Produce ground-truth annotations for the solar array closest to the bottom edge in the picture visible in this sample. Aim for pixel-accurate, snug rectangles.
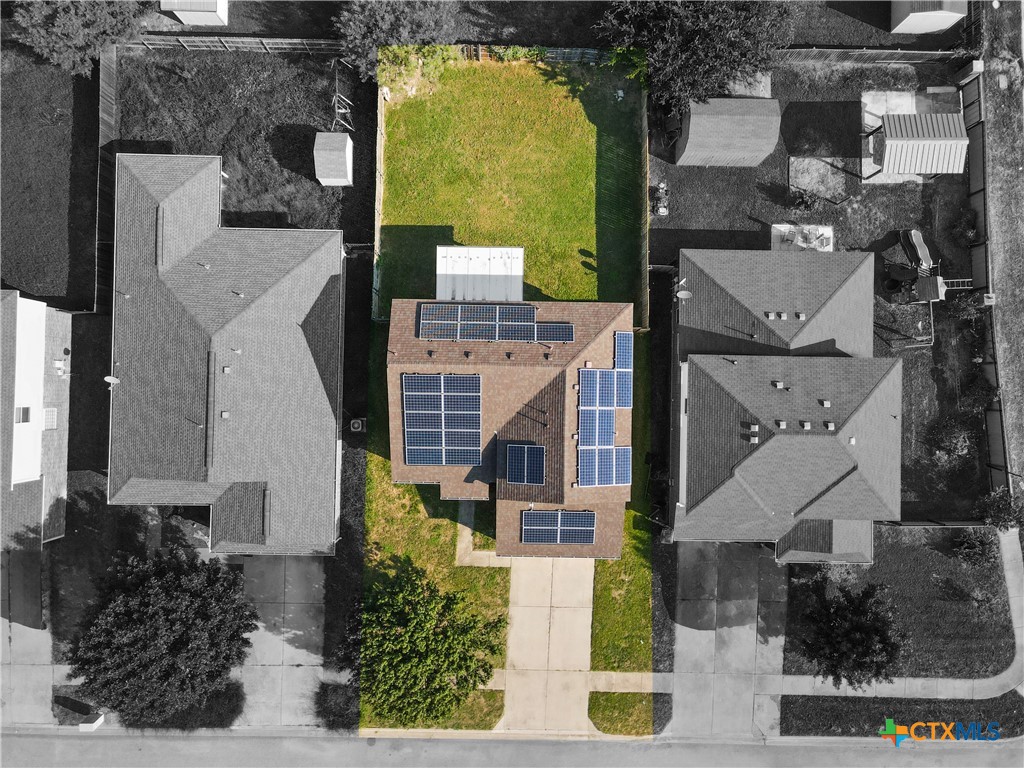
[519,512,597,546]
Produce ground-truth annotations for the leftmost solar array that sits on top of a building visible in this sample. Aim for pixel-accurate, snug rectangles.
[400,375,483,468]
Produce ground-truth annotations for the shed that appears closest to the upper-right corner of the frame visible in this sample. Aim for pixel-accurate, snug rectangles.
[893,0,965,31]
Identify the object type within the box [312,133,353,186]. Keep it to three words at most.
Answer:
shed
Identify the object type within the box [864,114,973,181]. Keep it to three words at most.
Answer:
building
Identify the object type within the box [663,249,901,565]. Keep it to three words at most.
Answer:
house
